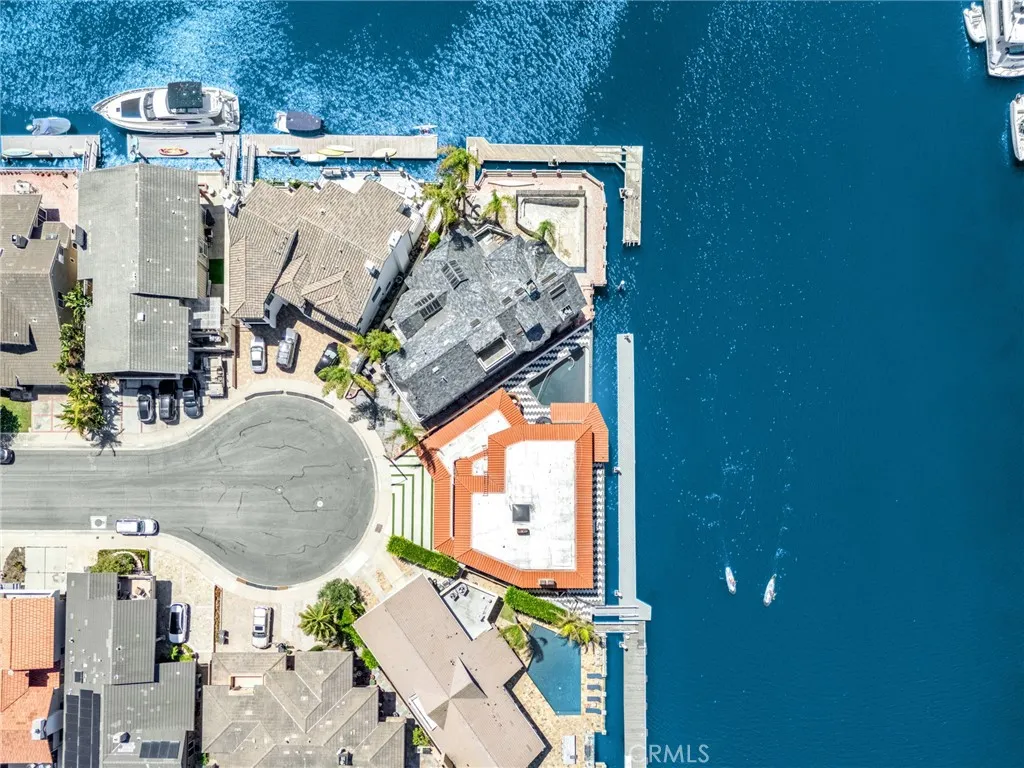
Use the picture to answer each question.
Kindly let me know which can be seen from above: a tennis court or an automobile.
automobile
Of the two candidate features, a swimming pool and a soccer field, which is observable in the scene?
swimming pool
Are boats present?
Yes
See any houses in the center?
Yes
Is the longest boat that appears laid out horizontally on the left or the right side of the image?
left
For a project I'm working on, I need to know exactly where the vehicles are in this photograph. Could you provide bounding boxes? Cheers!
[170,602,192,641]
[276,328,301,371]
[248,334,269,374]
[118,516,160,536]
[253,606,274,647]
[312,340,340,378]
[350,351,369,374]
[182,377,203,417]
[136,386,157,422]
[156,380,179,421]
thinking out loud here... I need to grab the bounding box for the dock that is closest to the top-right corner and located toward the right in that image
[623,146,643,246]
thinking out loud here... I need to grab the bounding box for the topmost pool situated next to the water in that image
[514,190,589,273]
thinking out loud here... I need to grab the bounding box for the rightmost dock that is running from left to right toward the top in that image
[466,137,626,173]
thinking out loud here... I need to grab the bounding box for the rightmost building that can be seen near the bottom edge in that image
[353,574,545,768]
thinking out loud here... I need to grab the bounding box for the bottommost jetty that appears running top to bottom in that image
[623,620,647,768]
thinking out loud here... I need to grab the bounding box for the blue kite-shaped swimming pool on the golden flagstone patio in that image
[524,620,583,716]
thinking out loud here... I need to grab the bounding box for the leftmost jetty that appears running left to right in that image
[1,135,102,159]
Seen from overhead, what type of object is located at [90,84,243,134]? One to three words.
boat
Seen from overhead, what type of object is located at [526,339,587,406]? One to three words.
swimming pool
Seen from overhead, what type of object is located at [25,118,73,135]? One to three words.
boat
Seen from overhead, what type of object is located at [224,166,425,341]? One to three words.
house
